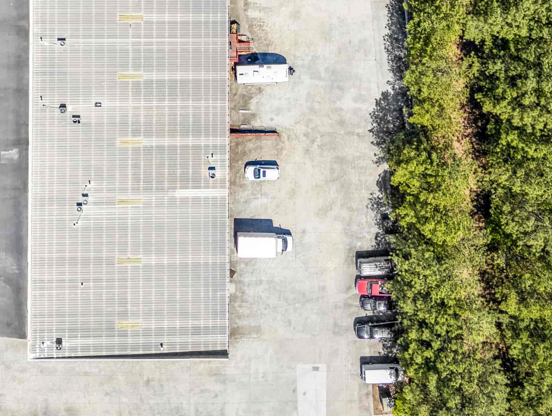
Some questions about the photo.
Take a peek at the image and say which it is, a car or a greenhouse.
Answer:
car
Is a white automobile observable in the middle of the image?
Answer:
Yes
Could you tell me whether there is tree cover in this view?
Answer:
Yes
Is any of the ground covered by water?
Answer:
No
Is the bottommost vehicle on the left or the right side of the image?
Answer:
right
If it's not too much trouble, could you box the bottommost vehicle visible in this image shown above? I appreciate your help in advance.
[361,364,405,387]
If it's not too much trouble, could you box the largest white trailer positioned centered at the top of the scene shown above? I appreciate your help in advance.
[230,64,296,87]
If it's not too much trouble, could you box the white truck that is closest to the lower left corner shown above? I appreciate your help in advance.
[236,235,292,259]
